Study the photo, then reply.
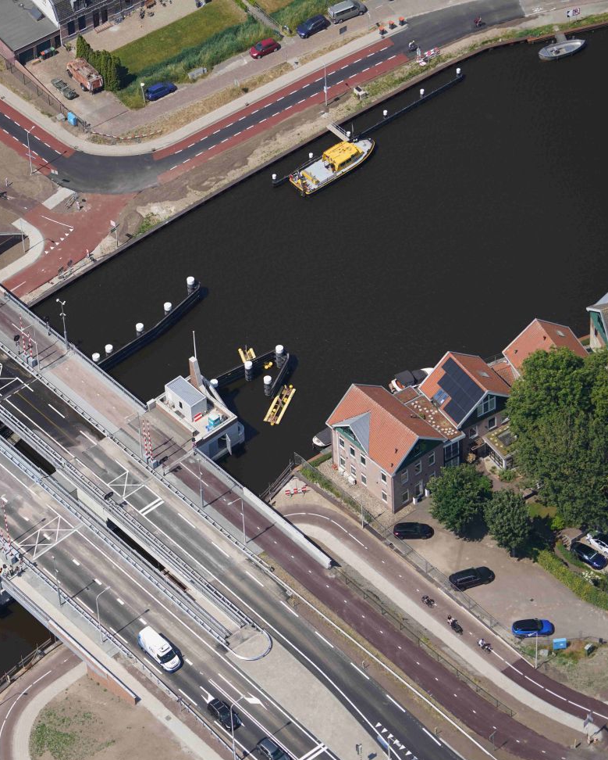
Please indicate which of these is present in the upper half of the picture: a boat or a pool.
boat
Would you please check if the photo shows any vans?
Yes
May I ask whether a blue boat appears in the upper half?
No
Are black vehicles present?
Yes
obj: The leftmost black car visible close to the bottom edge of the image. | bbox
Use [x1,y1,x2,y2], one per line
[201,691,248,733]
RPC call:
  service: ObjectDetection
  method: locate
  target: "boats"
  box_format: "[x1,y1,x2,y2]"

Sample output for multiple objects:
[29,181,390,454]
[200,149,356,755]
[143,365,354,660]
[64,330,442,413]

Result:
[537,39,584,59]
[387,363,432,390]
[307,421,329,448]
[286,133,373,198]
